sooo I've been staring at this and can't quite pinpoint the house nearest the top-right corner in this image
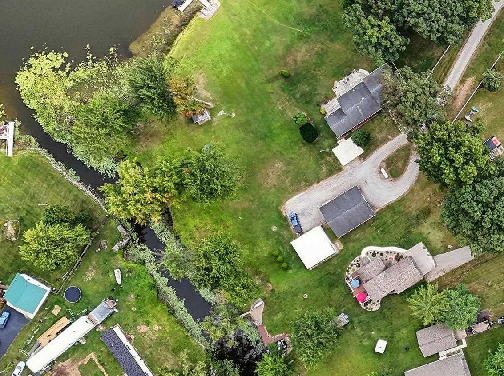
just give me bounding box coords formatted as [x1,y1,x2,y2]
[324,63,399,139]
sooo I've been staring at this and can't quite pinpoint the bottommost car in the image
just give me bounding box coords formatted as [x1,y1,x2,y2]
[10,362,24,376]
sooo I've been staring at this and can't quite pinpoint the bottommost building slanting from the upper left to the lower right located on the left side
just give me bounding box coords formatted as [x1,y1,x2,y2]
[101,326,153,376]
